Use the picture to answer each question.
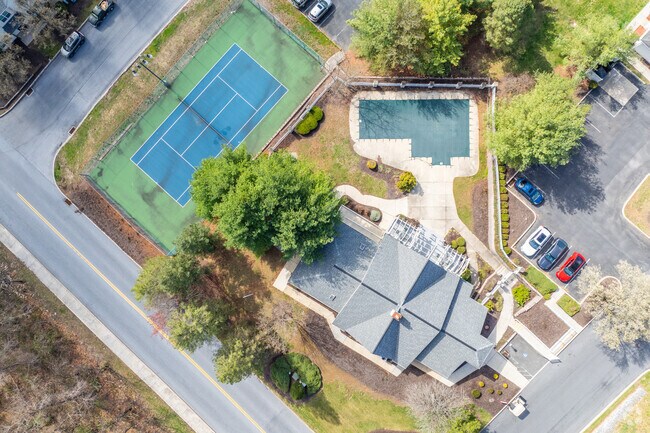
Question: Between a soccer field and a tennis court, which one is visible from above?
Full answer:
Visible in the photo is a tennis court.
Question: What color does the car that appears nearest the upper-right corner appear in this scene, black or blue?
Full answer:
In this view, the car that appears nearest the upper-right corner is blue.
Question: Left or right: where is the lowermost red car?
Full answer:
The lowermost red car sits on the right side.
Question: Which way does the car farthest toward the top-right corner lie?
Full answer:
The car farthest toward the top-right corner runs on a diagonal in the image.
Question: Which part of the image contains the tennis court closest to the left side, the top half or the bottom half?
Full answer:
The tennis court closest to the left side is in the top half of the image.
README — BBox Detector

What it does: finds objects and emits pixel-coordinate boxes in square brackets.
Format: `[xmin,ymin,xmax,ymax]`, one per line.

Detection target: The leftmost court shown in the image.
[86,1,324,255]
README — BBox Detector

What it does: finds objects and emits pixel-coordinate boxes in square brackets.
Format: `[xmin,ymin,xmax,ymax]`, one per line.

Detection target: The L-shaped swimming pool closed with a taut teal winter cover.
[355,95,475,170]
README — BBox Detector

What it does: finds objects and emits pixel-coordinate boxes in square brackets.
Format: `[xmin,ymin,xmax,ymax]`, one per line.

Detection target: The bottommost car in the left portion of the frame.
[54,26,84,58]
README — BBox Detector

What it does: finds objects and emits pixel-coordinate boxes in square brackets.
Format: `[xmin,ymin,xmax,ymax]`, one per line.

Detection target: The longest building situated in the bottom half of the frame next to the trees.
[289,208,493,385]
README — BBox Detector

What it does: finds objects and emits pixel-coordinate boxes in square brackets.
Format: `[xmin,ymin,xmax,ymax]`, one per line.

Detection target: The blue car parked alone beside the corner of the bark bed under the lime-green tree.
[514,175,547,205]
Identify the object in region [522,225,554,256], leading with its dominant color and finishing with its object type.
white car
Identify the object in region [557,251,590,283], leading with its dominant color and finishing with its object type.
red car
